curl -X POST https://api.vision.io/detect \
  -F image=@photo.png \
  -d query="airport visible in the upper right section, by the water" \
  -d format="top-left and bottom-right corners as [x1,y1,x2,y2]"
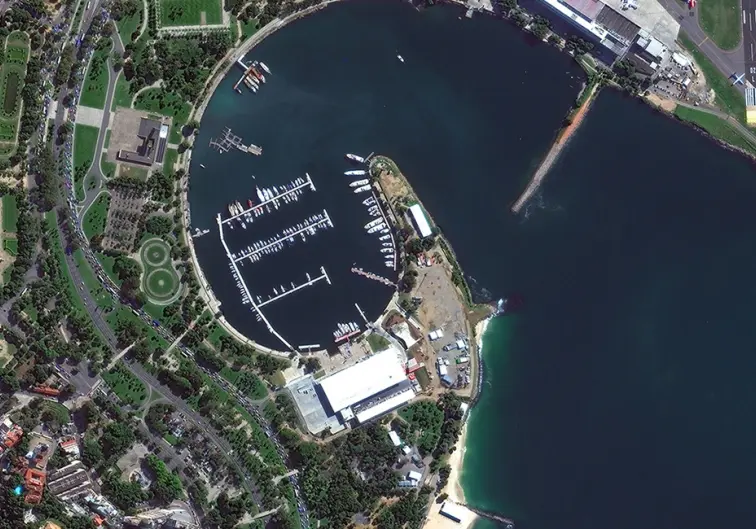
[602,0,756,158]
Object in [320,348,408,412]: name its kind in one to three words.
building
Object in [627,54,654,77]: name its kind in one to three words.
shed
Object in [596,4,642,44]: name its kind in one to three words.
hangar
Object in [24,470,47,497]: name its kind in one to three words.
house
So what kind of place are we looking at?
port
